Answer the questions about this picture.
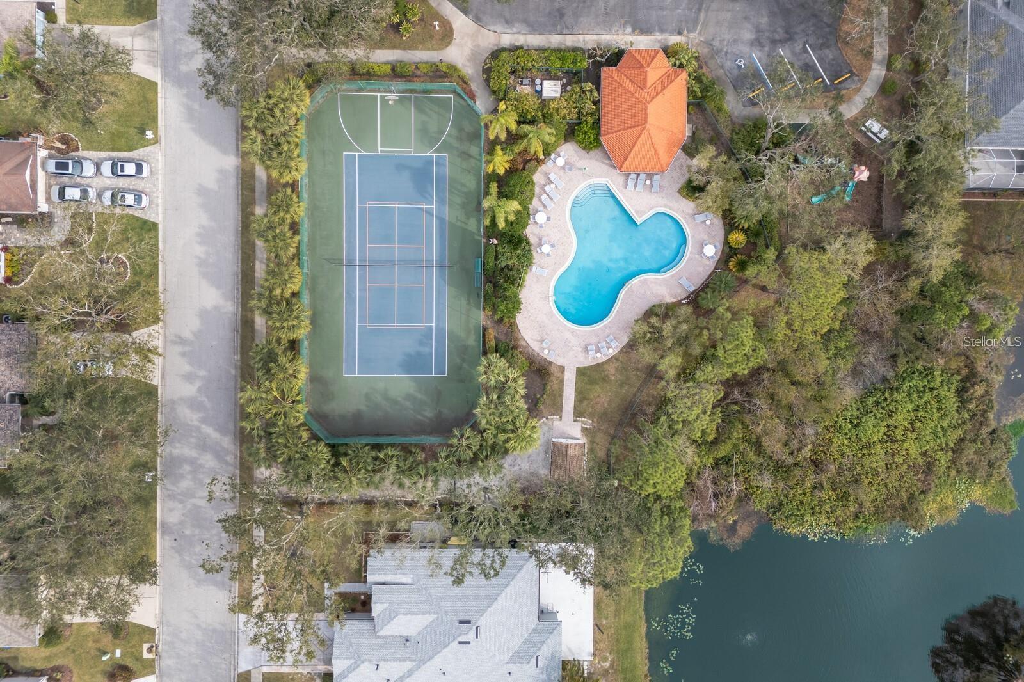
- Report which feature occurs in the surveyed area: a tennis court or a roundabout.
tennis court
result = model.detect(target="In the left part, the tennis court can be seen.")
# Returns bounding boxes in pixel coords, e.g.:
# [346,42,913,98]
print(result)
[310,91,480,435]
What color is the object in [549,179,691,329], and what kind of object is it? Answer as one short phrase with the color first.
blue swimming pool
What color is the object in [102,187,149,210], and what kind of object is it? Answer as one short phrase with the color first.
white car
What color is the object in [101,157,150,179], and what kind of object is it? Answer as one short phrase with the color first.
white car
